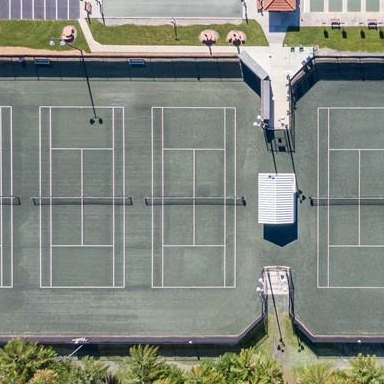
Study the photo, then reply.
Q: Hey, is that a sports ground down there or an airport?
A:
sports ground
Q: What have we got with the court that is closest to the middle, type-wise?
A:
tennis court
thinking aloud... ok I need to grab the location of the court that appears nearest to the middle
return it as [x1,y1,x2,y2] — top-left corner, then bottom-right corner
[152,106,236,289]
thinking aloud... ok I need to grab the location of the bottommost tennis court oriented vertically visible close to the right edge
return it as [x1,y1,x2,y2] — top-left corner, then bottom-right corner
[317,106,384,289]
